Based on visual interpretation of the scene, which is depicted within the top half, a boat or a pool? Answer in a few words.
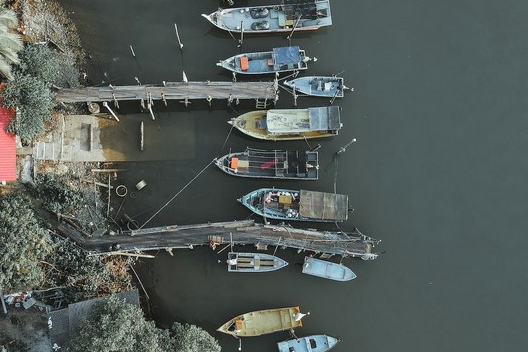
boat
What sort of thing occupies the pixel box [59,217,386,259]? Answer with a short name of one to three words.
pier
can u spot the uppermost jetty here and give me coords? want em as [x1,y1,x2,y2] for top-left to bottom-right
[56,78,279,113]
